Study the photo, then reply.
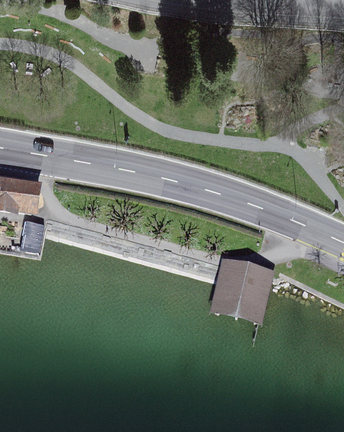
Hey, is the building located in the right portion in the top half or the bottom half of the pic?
bottom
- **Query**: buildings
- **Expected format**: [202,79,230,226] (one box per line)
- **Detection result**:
[0,176,41,218]
[20,220,44,256]
[208,258,274,328]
